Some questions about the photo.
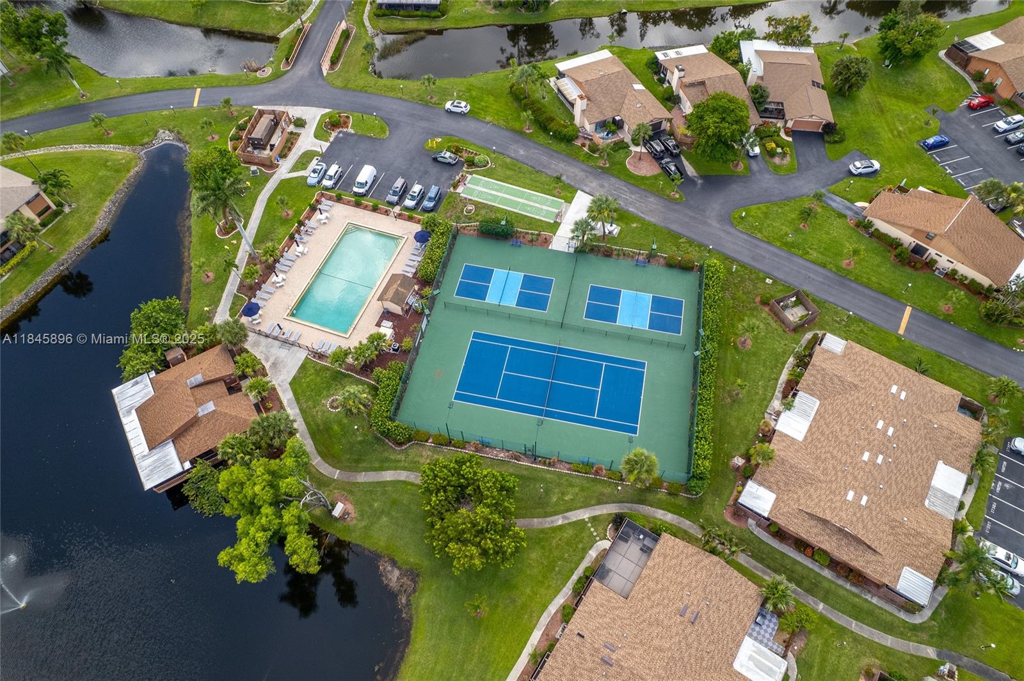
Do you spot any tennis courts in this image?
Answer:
Yes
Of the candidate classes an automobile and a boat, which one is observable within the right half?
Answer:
automobile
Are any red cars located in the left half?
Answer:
No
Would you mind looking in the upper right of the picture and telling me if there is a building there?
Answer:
Yes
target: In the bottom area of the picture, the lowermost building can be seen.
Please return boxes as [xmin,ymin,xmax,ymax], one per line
[531,518,789,681]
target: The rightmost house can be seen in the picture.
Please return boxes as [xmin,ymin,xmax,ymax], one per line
[945,16,1024,107]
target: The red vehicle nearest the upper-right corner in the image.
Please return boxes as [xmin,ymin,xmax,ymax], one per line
[967,96,996,110]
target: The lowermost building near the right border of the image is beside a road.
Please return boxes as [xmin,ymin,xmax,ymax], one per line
[733,332,985,611]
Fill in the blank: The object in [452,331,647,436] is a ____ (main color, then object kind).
blue tennis court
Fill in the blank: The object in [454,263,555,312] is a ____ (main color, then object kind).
blue sports court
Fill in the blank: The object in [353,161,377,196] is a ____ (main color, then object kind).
white vehicle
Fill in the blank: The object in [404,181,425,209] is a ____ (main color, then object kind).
white car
